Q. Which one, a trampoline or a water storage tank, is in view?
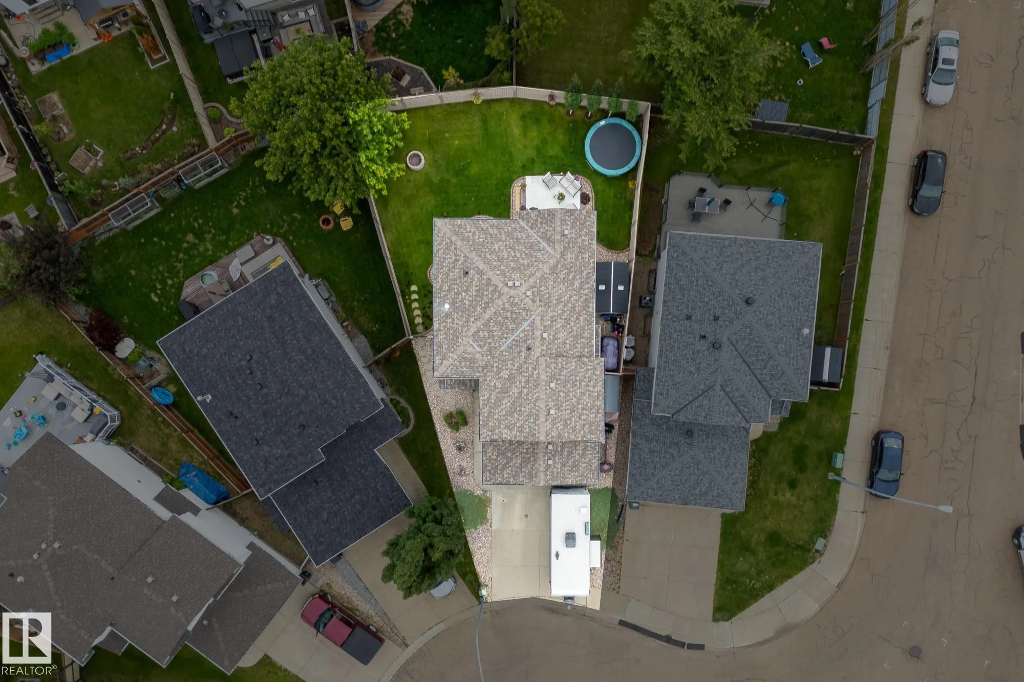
trampoline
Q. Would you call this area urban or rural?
urban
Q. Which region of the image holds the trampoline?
top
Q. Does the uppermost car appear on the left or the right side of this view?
right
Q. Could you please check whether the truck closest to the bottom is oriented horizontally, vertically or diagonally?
diagonally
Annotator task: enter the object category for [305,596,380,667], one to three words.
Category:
truck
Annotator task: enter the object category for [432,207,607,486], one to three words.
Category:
house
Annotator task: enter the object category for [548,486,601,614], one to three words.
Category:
trailer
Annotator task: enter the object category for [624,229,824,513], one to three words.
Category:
house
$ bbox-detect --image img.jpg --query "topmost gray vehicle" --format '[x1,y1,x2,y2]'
[917,27,961,108]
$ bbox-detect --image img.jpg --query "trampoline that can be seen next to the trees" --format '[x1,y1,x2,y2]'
[584,117,642,176]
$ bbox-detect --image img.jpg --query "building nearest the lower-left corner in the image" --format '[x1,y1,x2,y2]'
[0,432,304,674]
